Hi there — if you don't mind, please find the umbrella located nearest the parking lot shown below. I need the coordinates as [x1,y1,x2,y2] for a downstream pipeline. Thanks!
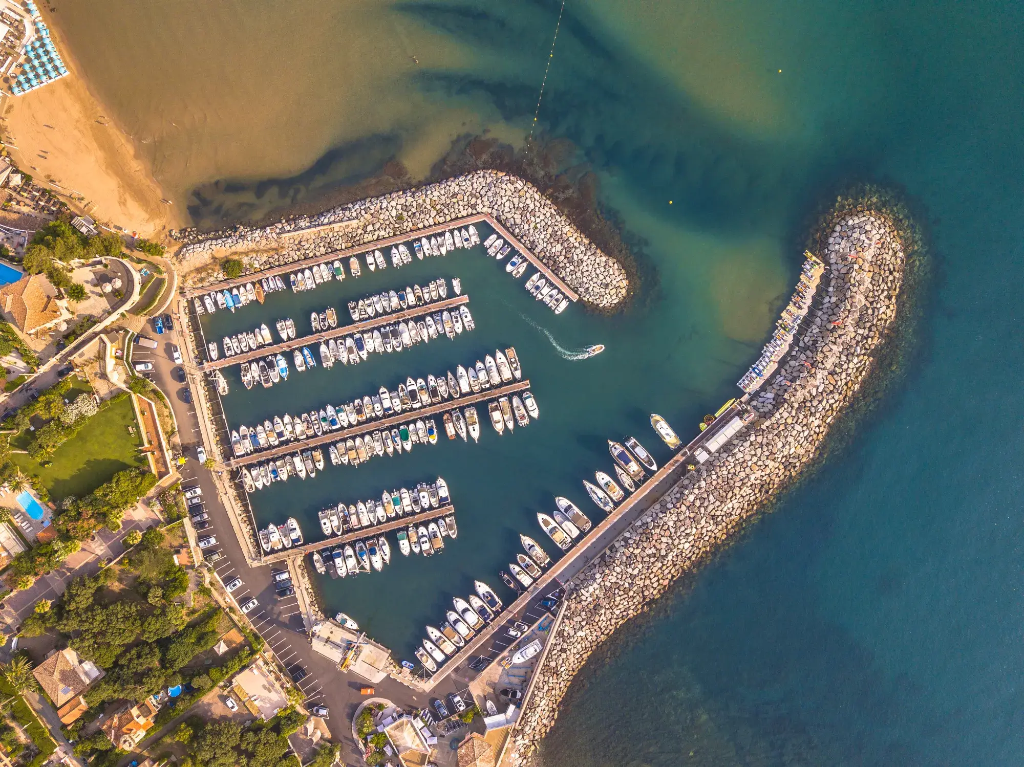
[111,367,125,381]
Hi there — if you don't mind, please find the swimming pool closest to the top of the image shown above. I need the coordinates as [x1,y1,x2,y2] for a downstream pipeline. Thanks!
[0,262,25,286]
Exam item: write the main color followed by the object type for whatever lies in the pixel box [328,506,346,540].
white boat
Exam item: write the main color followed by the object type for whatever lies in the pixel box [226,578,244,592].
white car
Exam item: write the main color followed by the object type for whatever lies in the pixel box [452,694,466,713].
white vehicle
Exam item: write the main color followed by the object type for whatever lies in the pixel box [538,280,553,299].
white boat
